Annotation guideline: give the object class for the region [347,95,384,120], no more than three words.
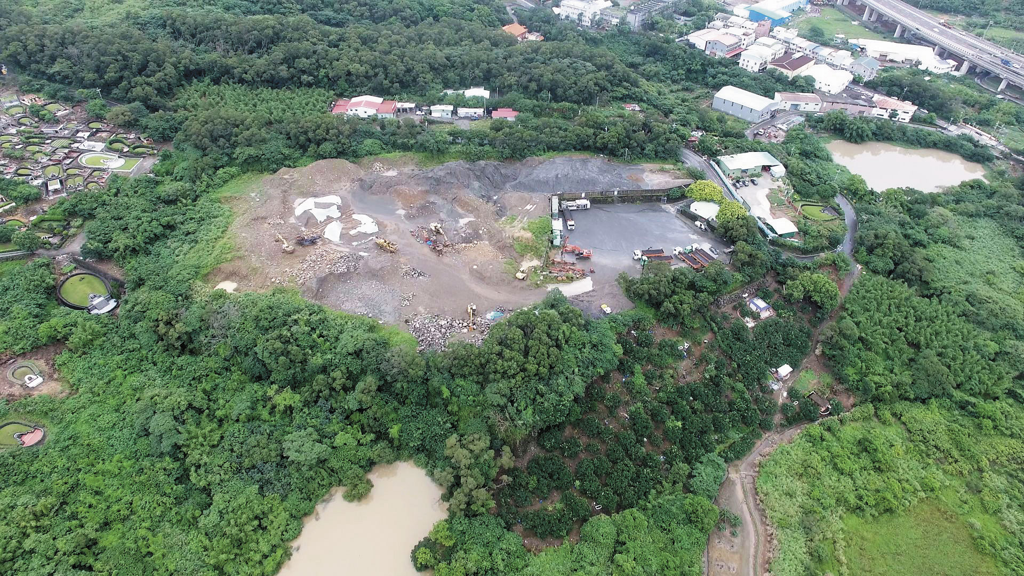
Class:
house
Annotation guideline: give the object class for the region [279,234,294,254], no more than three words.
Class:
work vehicle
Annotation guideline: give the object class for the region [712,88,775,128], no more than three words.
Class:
building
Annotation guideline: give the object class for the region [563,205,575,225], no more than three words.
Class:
vehicle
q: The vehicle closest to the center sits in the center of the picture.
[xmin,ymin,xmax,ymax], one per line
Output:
[517,262,538,280]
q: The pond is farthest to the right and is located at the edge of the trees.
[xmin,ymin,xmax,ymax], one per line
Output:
[827,138,986,195]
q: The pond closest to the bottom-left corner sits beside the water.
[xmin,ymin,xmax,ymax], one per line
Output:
[274,459,449,576]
